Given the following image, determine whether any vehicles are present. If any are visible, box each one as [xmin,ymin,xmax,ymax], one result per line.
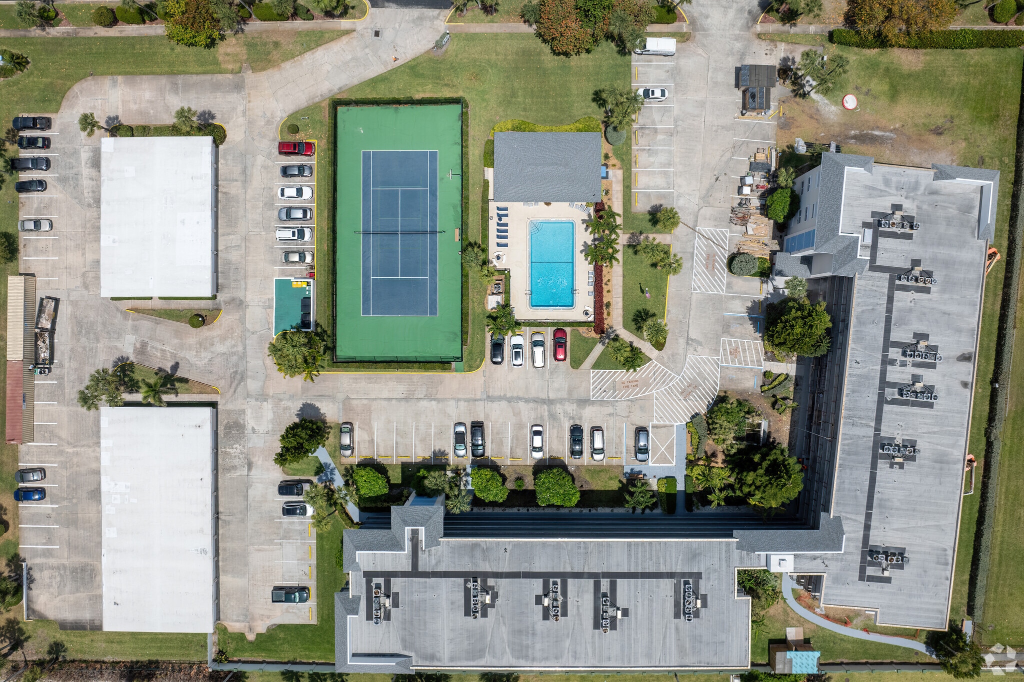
[278,139,315,156]
[278,481,315,498]
[509,335,525,368]
[530,333,546,369]
[12,114,54,131]
[14,468,48,484]
[452,422,468,457]
[552,329,568,362]
[14,487,48,503]
[13,177,49,194]
[282,502,316,518]
[635,427,651,462]
[489,333,505,365]
[529,425,545,459]
[638,36,677,55]
[637,86,668,102]
[280,163,313,179]
[18,134,53,150]
[282,249,314,265]
[279,206,313,222]
[271,586,311,603]
[278,185,313,200]
[9,155,52,172]
[276,226,313,242]
[470,421,486,457]
[590,426,606,461]
[18,217,54,233]
[304,273,315,278]
[569,424,585,459]
[338,422,354,457]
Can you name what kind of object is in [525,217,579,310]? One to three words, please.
swimming pool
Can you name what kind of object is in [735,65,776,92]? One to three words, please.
shed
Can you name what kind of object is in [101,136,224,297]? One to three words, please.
building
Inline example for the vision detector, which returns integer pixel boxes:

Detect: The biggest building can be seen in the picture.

[335,152,999,673]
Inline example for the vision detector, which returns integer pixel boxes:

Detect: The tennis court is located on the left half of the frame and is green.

[335,104,463,372]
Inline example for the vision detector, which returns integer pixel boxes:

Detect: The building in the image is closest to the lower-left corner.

[99,407,222,633]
